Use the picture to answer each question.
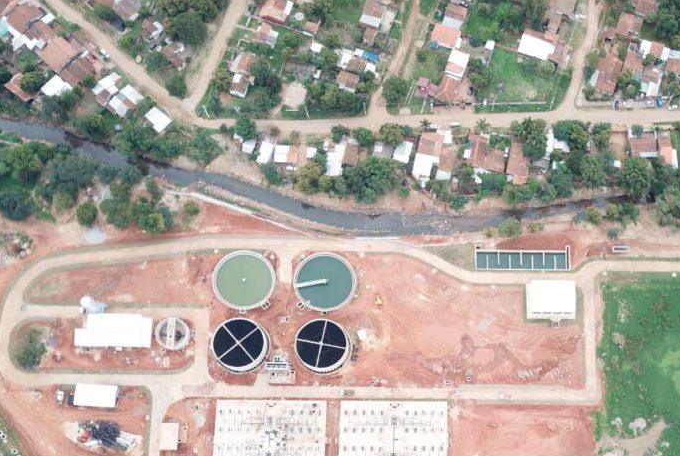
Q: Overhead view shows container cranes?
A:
No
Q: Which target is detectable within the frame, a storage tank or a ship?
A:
storage tank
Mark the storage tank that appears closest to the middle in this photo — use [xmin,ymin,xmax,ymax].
[292,252,358,316]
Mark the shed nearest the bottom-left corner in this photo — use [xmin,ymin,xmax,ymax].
[67,383,123,408]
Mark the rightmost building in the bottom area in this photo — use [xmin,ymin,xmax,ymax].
[522,279,582,328]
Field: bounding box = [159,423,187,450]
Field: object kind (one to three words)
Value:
building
